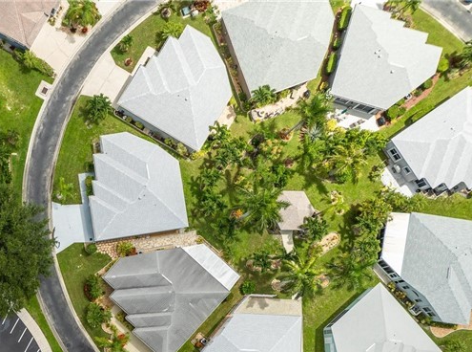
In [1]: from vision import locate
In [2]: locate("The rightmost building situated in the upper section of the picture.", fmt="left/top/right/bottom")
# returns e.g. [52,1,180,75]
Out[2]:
[386,82,472,189]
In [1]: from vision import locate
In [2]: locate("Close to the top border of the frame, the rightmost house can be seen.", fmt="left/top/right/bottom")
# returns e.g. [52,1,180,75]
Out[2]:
[325,3,444,113]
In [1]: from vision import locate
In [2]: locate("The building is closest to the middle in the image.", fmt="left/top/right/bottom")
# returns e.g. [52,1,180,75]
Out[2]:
[271,191,314,231]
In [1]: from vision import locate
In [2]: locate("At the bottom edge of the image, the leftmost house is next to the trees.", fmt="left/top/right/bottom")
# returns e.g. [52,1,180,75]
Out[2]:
[102,243,240,352]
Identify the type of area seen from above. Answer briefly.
residential area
